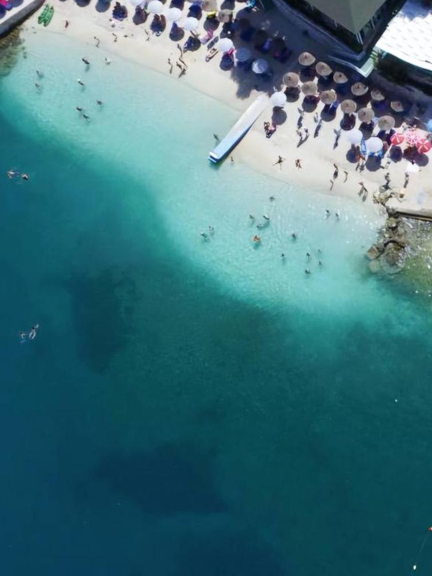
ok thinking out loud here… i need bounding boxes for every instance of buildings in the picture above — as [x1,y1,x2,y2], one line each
[374,0,432,75]
[306,0,396,46]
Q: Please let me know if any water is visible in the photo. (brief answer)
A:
Yes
